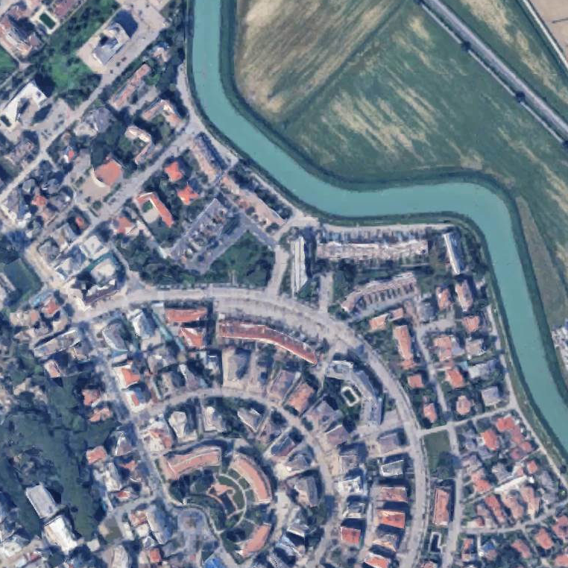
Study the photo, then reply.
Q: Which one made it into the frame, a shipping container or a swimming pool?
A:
swimming pool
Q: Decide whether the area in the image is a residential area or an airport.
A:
residential area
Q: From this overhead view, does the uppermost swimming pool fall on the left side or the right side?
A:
left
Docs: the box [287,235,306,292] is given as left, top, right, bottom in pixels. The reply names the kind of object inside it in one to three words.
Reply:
building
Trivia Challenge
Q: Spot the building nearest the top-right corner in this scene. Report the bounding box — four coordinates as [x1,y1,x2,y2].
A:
[437,230,464,274]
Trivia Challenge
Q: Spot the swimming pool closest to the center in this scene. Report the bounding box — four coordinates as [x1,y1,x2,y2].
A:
[341,388,359,406]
